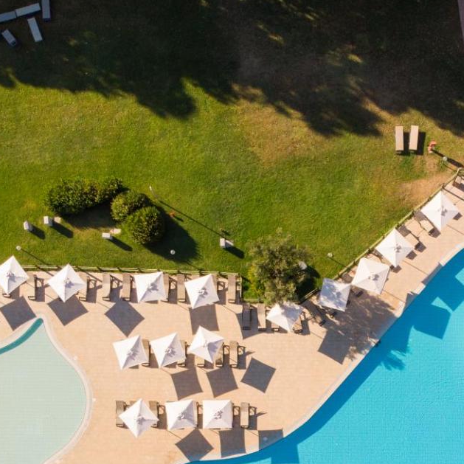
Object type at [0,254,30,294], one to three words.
umbrella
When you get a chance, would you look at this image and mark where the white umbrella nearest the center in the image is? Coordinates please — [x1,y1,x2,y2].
[186,273,221,308]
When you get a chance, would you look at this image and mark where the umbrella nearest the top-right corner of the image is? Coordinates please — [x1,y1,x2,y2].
[421,190,461,229]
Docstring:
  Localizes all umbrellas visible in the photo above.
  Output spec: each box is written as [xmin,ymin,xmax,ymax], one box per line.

[267,300,304,333]
[151,332,185,366]
[112,334,148,371]
[352,257,388,294]
[377,228,415,268]
[119,398,159,437]
[203,399,231,428]
[164,399,195,430]
[0,254,30,294]
[188,327,224,363]
[47,265,86,303]
[135,272,166,302]
[186,273,221,308]
[421,190,461,229]
[320,278,352,311]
